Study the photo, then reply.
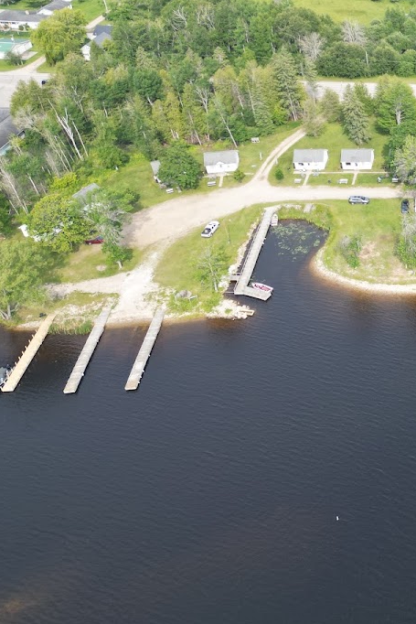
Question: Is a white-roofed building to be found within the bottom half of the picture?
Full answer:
No, there is no white-roofed building within the bottom half of the picture.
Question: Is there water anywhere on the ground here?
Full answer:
Yes, water shows up in the scene.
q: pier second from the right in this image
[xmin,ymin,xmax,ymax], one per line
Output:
[125,315,165,391]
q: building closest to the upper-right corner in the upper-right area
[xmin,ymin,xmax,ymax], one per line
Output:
[339,145,378,172]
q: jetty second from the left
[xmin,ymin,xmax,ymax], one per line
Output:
[64,316,109,393]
